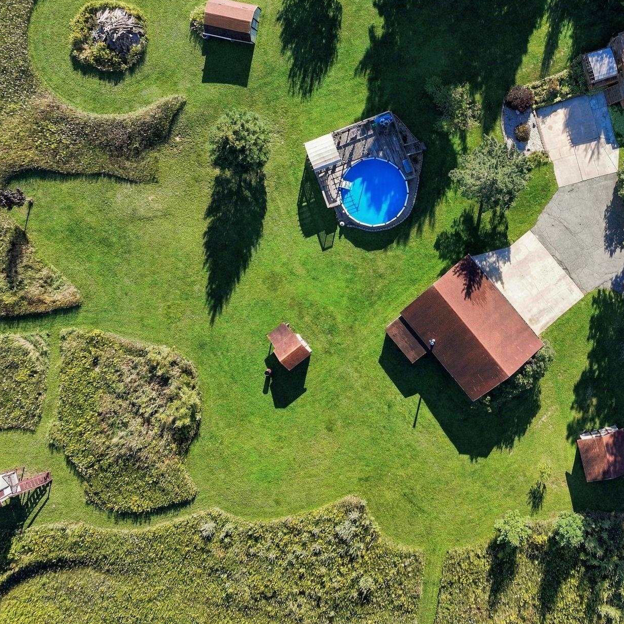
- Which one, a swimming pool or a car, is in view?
swimming pool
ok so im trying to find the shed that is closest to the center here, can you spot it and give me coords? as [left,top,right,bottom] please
[269,319,315,369]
